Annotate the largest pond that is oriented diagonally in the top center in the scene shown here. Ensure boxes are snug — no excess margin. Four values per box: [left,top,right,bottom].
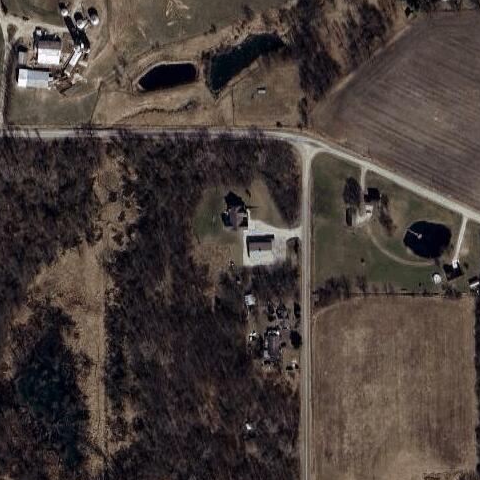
[210,33,285,94]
